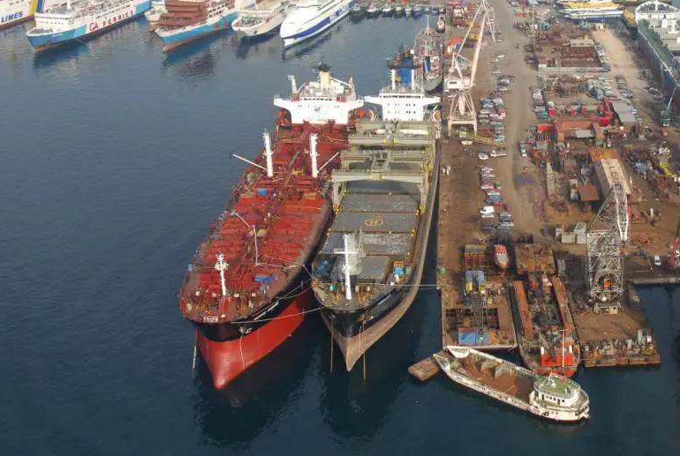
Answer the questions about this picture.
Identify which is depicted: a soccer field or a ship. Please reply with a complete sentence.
I can see a ship in this picture.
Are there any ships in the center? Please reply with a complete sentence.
Yes, a ship shows up in the center.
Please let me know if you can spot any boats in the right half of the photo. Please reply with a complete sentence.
Yes, you'll find a boat in the right half of the photo.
